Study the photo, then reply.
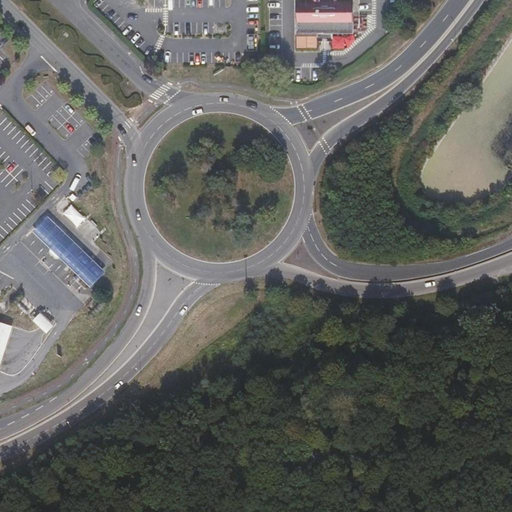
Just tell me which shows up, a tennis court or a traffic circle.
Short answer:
traffic circle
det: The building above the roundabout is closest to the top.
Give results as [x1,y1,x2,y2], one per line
[296,0,354,33]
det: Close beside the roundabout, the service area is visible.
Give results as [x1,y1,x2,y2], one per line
[0,201,113,304]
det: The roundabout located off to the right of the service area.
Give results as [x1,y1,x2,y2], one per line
[124,92,314,282]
